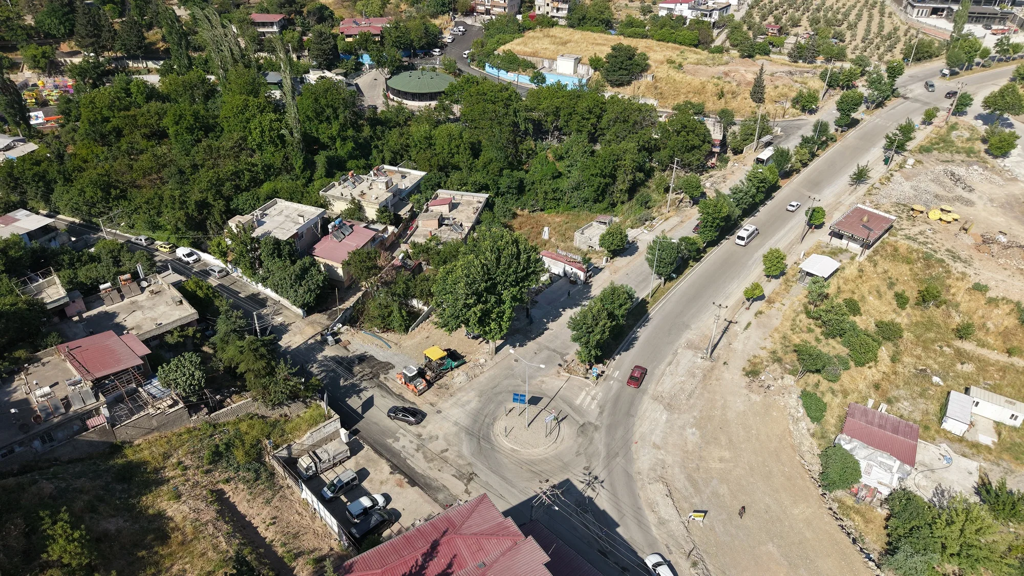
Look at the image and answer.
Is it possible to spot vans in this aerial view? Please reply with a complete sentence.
Yes, a van appears in the view.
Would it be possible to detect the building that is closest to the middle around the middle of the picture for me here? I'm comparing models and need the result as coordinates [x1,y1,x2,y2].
[540,249,588,289]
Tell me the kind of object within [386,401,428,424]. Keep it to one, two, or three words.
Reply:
car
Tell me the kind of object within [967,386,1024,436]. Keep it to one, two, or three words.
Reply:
building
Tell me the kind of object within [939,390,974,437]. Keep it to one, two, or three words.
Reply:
shed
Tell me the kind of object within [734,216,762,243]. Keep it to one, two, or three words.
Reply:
vehicle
